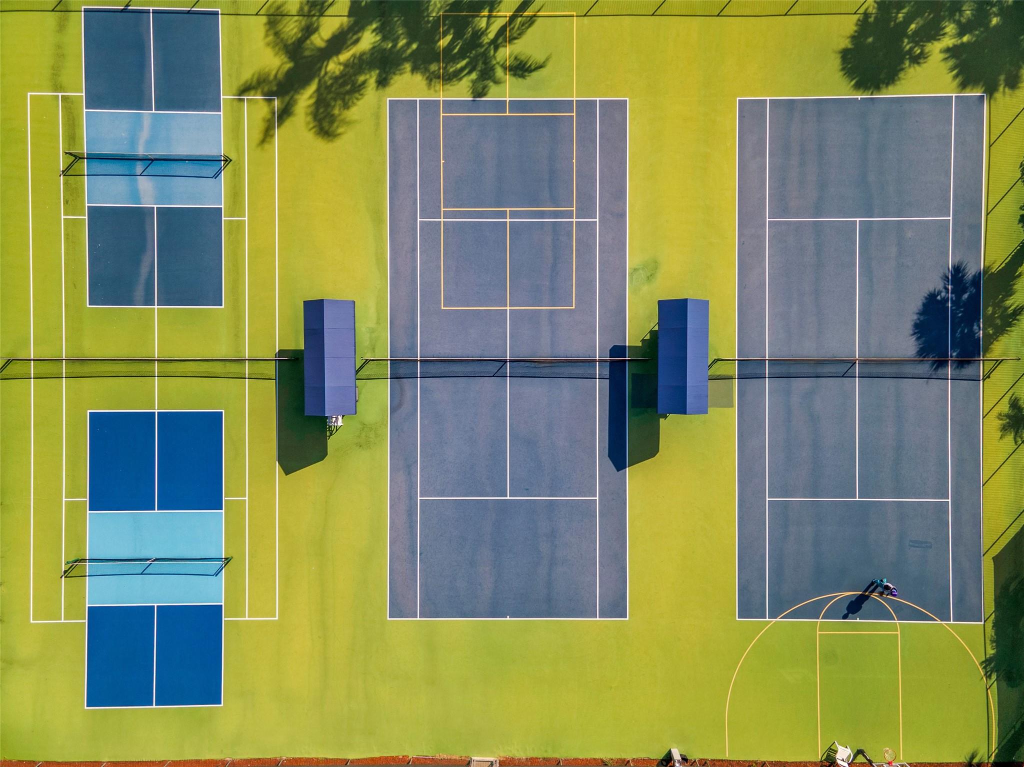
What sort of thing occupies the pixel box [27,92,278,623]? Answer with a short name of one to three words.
tennis court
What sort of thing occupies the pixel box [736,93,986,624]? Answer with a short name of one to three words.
tennis court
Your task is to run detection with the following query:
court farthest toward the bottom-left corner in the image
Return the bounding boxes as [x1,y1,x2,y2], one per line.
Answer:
[85,410,224,709]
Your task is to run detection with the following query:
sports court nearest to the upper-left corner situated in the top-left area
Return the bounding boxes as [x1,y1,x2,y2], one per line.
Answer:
[82,7,224,307]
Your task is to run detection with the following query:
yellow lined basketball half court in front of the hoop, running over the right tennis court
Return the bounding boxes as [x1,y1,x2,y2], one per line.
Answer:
[726,592,995,760]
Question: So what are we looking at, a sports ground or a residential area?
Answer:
sports ground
